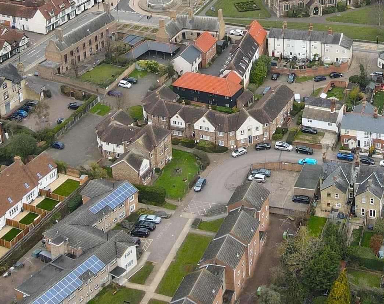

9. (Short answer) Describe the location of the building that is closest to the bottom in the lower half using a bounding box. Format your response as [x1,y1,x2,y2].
[167,266,229,304]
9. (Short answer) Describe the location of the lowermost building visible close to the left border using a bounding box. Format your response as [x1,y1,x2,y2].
[0,209,138,304]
